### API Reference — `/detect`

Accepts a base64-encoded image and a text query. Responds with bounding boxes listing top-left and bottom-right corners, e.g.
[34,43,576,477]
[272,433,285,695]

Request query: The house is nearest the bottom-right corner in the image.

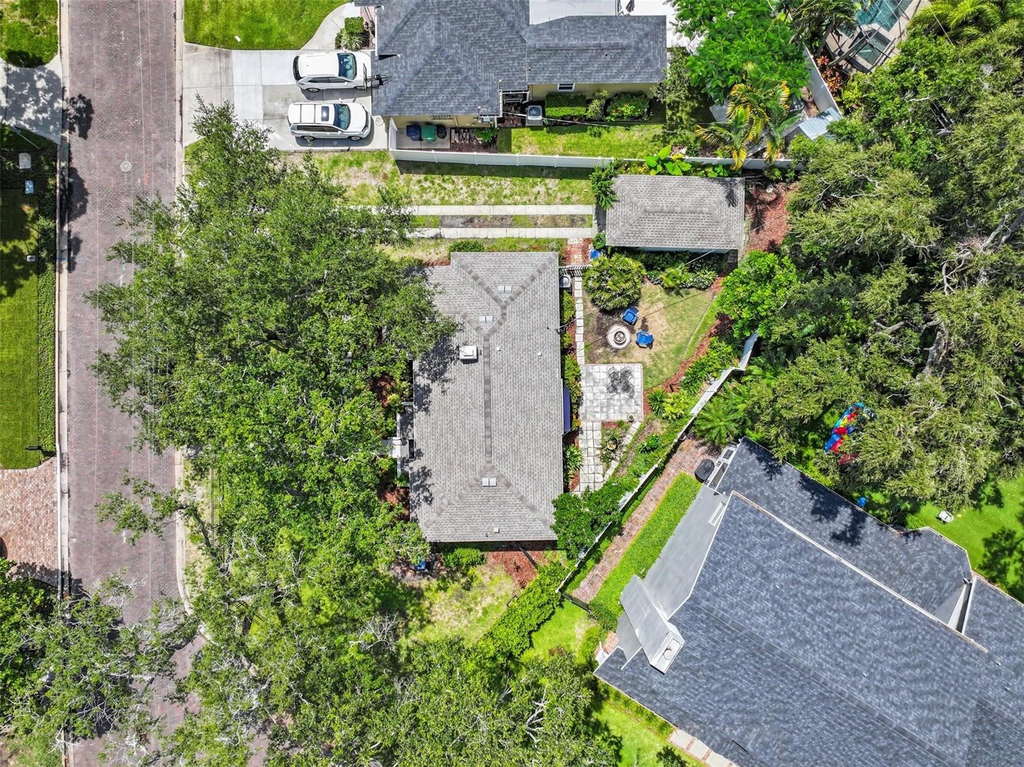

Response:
[593,438,1024,767]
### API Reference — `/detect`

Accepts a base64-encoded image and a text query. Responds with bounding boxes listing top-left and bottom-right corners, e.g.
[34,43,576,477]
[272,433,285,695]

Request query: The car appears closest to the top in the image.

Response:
[293,50,371,91]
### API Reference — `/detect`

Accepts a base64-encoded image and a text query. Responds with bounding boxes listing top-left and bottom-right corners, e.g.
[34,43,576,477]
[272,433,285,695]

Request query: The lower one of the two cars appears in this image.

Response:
[286,99,371,141]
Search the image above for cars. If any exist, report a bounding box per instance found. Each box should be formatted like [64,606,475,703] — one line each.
[293,50,371,91]
[286,99,371,141]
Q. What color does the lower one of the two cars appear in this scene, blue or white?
white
